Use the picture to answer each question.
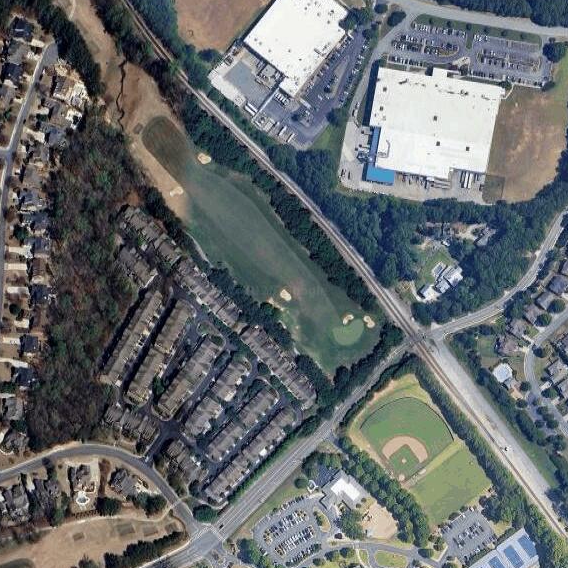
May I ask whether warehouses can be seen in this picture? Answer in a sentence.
Yes, you can see a warehouse in this photo.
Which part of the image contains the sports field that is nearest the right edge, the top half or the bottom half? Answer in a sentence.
The sports field that is nearest the right edge is in the bottom half of the image.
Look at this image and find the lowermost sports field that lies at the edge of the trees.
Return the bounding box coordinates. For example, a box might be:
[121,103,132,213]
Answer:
[412,453,488,528]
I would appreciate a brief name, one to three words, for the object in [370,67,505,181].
warehouse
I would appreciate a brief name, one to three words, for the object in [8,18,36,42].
house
